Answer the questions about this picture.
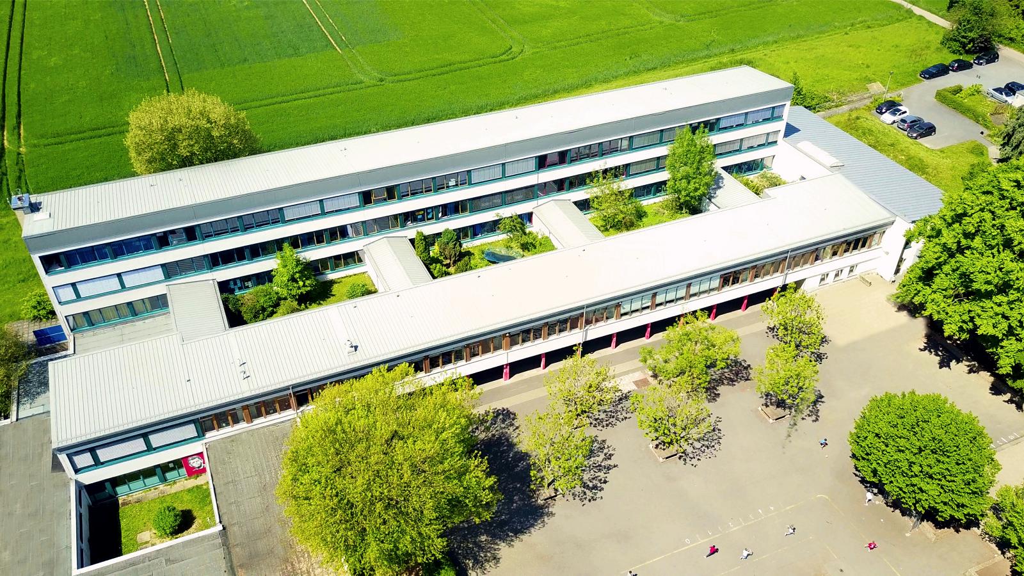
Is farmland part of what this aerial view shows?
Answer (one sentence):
Yes, farmland shows up in the scene.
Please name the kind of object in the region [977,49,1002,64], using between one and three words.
car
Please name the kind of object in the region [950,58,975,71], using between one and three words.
vehicle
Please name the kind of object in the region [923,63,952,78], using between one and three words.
car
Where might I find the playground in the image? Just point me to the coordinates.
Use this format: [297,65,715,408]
[334,275,1024,576]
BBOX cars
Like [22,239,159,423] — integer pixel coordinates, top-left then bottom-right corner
[1003,78,1024,92]
[875,97,906,112]
[909,118,941,137]
[950,58,975,71]
[884,104,915,122]
[989,87,1021,105]
[977,49,1002,64]
[899,113,926,129]
[923,63,952,78]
